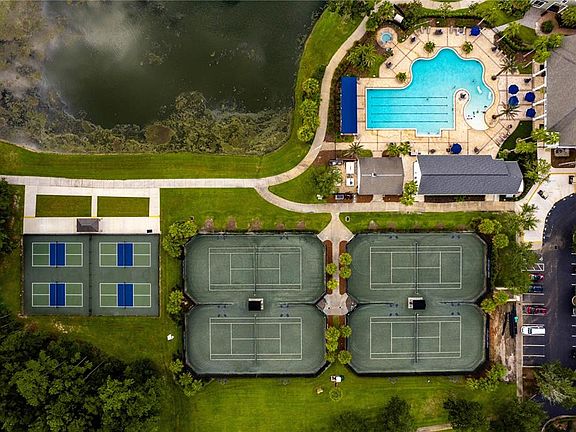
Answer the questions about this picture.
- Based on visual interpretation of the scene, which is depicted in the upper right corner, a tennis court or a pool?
pool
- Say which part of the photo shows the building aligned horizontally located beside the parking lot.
right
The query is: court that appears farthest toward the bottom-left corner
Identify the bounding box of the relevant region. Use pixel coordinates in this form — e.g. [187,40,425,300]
[32,281,83,309]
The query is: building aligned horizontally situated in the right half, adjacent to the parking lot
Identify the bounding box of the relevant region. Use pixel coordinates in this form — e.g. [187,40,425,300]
[416,155,526,200]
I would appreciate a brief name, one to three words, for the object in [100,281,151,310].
sports court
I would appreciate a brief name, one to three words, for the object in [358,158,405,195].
building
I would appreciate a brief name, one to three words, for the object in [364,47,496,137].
swimming pool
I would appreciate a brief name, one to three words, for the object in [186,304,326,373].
tennis court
